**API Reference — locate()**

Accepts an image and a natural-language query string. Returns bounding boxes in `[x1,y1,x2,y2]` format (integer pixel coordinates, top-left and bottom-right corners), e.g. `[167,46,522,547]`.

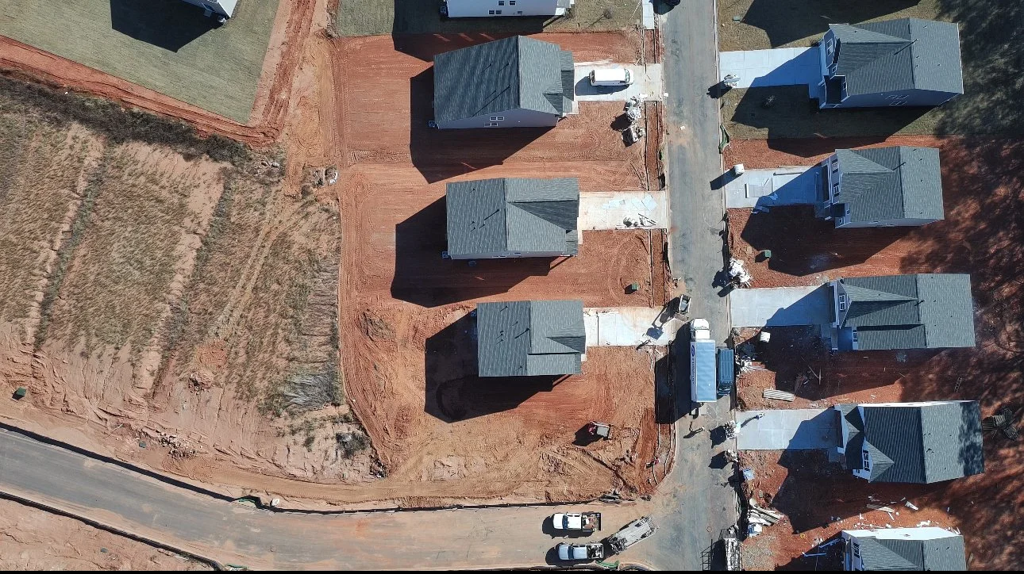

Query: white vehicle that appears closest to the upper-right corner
[590,66,633,86]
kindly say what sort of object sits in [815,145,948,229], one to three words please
house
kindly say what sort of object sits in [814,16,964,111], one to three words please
house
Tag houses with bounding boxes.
[433,35,574,129]
[446,178,580,258]
[476,300,586,378]
[815,145,948,229]
[830,398,985,485]
[833,526,967,574]
[176,0,236,17]
[814,16,964,111]
[822,273,975,349]
[442,0,573,16]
